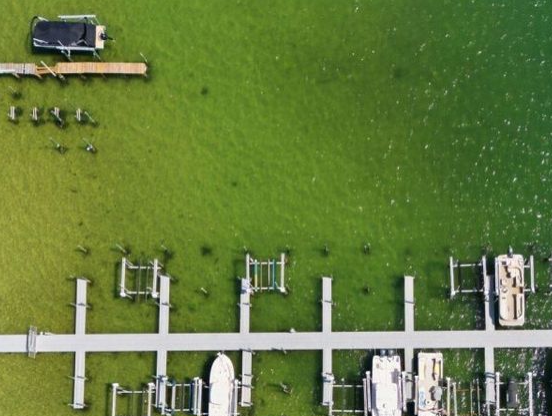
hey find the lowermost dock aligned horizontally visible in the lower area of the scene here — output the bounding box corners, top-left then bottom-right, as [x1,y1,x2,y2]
[0,328,552,354]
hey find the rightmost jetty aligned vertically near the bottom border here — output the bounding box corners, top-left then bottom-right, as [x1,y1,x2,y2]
[483,347,497,410]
